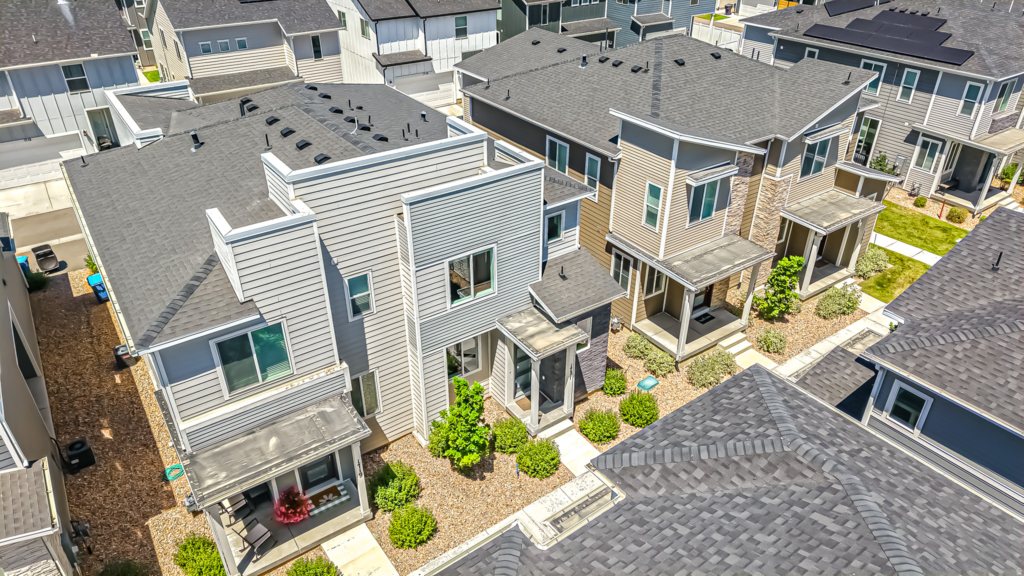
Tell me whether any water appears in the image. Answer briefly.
No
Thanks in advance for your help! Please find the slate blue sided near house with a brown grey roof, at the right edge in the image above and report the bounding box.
[782,204,1024,521]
